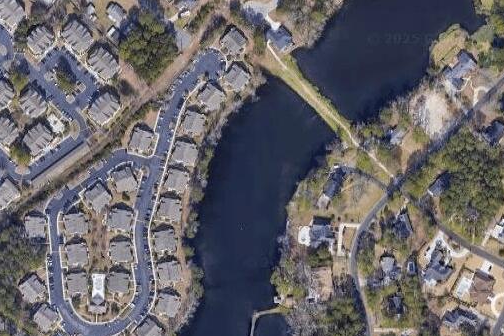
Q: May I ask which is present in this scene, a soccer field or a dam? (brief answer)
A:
dam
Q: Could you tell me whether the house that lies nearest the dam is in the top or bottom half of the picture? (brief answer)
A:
top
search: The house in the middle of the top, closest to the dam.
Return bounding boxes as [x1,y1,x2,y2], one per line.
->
[268,25,295,52]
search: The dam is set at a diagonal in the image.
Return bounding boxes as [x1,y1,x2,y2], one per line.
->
[266,51,358,143]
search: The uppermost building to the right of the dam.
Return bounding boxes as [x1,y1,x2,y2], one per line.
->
[443,54,478,85]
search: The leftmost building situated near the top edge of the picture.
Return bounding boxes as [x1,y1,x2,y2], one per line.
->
[0,0,26,27]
